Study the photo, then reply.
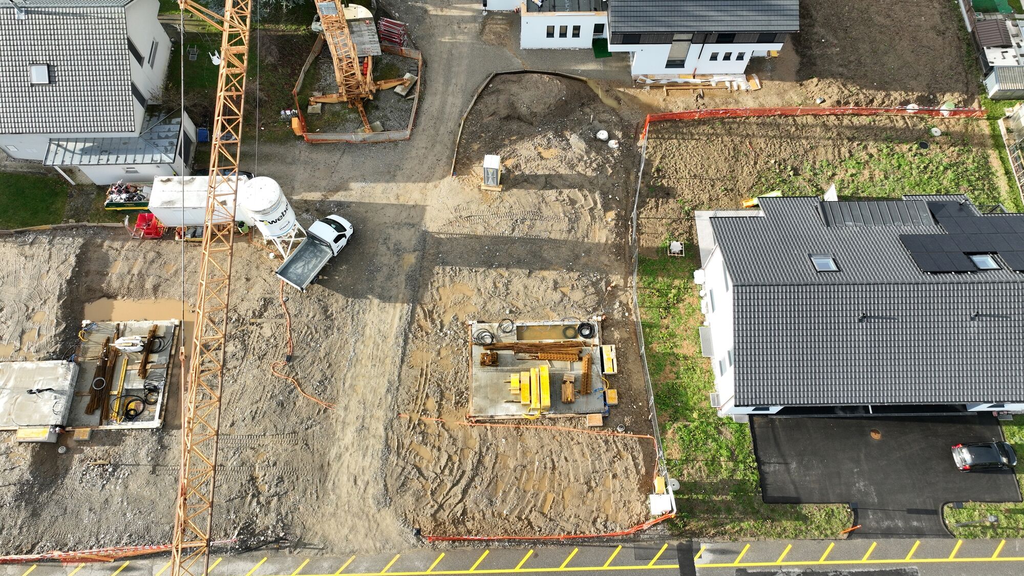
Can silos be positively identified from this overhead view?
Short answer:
Yes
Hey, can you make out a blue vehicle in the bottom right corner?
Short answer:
No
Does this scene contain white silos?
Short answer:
Yes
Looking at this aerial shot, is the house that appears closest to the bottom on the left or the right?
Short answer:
right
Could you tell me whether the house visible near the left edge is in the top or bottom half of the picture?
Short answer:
top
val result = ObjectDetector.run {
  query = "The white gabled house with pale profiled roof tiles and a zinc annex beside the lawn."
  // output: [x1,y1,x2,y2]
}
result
[0,0,194,183]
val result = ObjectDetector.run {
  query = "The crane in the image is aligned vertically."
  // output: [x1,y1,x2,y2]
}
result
[169,0,409,576]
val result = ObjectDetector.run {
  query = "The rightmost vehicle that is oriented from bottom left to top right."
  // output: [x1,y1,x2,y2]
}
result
[277,215,353,292]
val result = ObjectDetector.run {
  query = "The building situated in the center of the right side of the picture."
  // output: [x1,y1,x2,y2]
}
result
[695,194,1024,420]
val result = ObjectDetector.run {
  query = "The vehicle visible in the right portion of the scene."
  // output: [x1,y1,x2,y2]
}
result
[947,437,1019,474]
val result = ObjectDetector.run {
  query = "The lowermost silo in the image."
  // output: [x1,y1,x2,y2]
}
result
[235,178,308,261]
